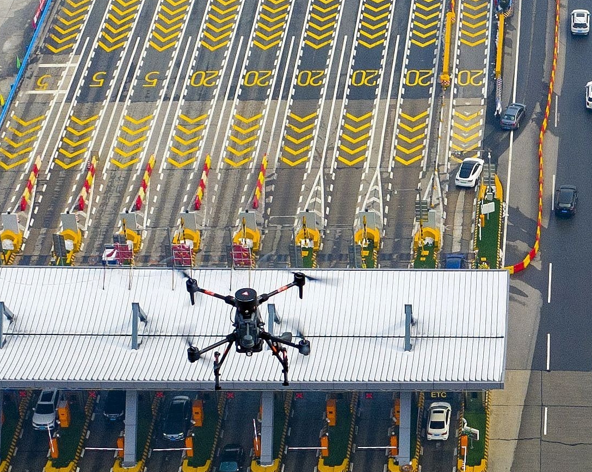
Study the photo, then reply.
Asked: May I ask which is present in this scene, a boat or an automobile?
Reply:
automobile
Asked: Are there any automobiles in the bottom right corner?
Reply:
Yes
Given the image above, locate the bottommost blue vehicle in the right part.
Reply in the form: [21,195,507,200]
[444,248,468,268]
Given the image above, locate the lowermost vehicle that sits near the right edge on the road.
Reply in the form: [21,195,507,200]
[555,188,578,216]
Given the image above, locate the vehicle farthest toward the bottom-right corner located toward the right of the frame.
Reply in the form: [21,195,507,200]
[426,402,454,439]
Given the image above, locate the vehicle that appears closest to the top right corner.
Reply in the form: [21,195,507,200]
[570,12,591,35]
